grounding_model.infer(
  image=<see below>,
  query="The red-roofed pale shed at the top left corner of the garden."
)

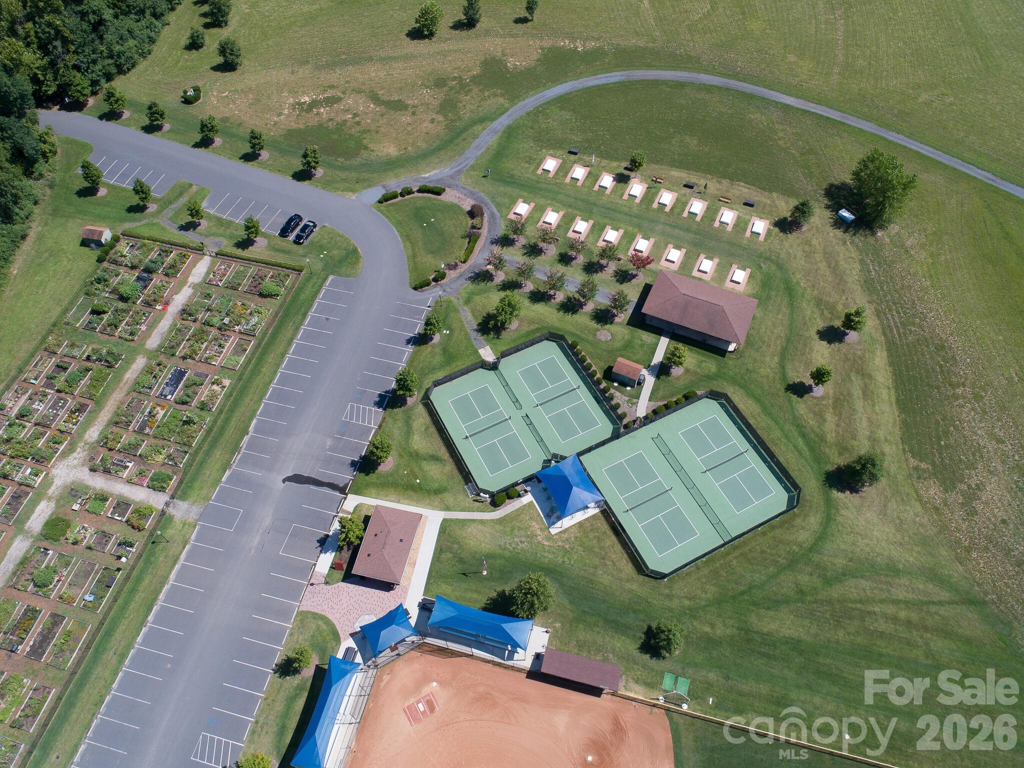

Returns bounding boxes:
[77,225,109,248]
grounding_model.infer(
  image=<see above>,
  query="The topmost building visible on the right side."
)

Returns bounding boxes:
[642,269,758,354]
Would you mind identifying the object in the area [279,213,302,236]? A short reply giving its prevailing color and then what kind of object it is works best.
black car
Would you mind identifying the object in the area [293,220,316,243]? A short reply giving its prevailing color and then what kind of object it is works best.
black car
